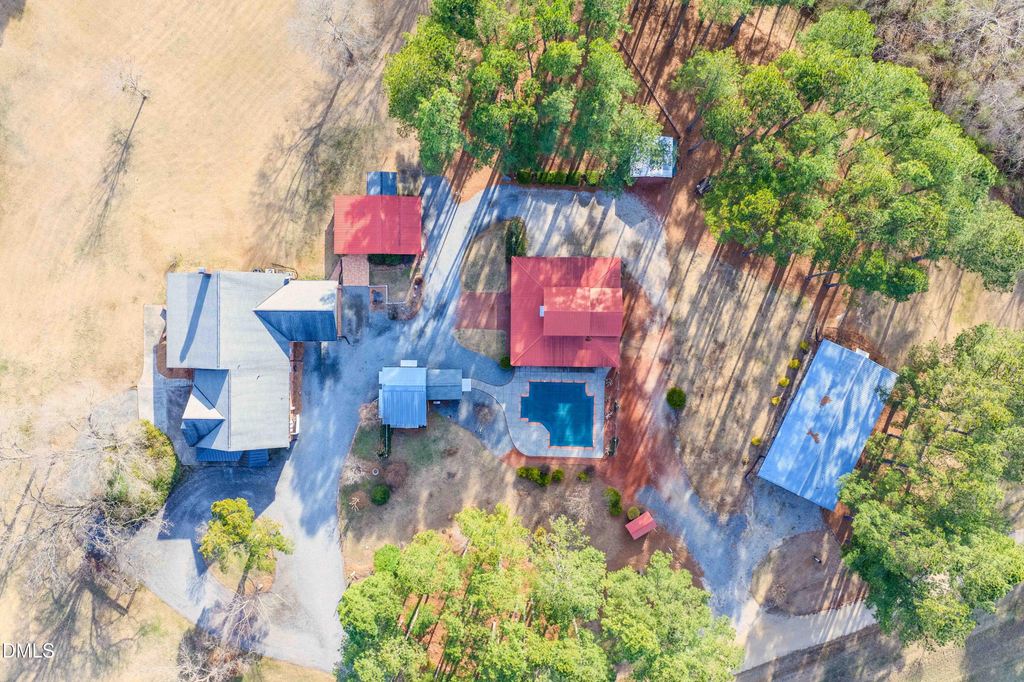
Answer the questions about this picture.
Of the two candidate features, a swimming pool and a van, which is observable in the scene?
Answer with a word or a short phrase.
swimming pool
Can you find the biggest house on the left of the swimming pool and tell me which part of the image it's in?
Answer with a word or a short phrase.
left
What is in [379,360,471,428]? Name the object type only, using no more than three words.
shed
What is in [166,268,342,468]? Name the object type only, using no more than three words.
house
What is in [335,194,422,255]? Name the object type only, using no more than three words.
building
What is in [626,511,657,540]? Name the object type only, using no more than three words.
shed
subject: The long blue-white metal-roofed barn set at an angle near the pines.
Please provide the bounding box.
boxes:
[753,339,896,511]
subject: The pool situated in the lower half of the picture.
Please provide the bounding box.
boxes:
[518,380,596,450]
